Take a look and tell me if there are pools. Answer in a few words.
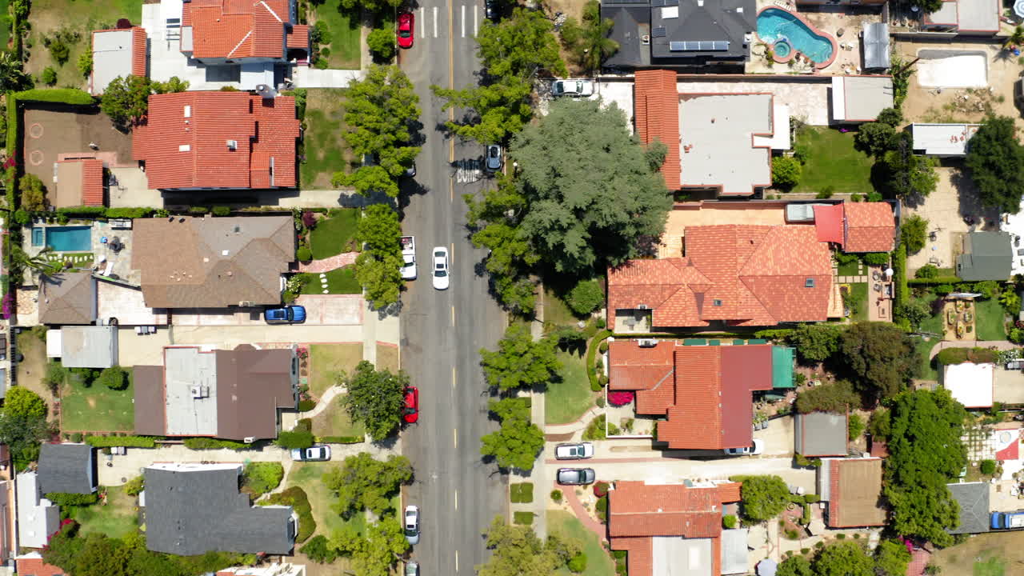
Yes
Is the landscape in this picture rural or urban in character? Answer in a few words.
urban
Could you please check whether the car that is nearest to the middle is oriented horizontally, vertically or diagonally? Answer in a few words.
vertically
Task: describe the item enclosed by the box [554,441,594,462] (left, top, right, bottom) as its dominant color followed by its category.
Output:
white car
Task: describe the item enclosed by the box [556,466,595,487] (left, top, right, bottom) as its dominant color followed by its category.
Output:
gray car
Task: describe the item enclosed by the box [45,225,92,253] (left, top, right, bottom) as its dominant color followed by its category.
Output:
blue swimming pool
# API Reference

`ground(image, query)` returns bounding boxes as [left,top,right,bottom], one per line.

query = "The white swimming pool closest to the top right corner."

[916,49,989,89]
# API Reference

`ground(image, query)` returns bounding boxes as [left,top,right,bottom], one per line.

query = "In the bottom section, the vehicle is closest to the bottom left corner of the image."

[291,444,332,463]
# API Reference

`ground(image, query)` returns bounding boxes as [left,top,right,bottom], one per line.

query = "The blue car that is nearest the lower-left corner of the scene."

[264,305,307,325]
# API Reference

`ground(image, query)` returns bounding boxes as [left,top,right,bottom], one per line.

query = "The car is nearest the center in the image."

[430,247,451,290]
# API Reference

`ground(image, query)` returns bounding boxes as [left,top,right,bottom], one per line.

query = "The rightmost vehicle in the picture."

[990,510,1024,531]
